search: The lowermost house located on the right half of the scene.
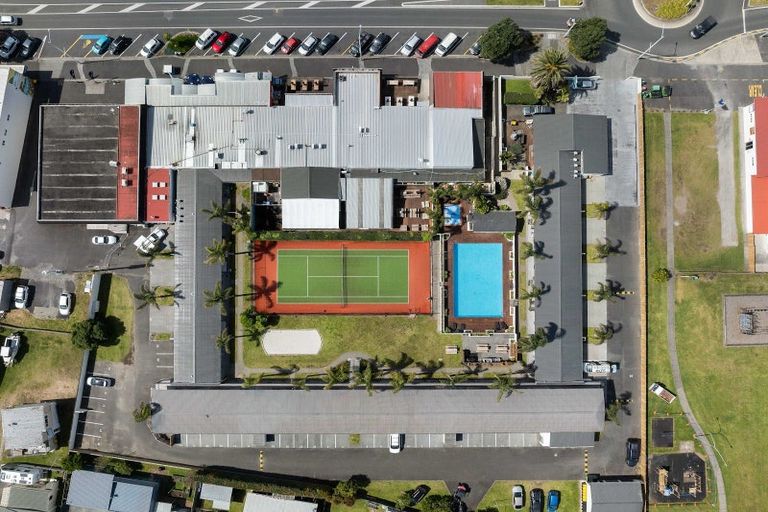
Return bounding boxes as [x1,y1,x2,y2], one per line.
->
[583,475,646,512]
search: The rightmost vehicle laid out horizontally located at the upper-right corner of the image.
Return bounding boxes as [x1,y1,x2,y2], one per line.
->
[645,84,676,98]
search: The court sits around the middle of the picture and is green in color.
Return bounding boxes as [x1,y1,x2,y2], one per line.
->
[254,241,430,314]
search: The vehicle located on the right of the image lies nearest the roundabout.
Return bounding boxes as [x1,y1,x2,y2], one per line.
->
[688,14,719,40]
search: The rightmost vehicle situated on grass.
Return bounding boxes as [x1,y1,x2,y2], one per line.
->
[646,381,679,406]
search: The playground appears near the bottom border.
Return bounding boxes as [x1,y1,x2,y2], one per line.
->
[650,453,706,504]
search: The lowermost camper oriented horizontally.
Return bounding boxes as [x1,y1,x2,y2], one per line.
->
[1,463,46,483]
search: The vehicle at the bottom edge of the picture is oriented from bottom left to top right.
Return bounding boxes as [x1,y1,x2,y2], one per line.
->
[407,481,429,507]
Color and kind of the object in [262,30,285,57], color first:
white car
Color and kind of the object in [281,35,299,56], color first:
red car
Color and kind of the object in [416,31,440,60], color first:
red vehicle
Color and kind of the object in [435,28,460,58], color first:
white vehicle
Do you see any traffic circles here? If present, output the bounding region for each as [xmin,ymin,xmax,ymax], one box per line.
[633,0,703,28]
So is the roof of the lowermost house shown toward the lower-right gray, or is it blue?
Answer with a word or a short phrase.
gray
